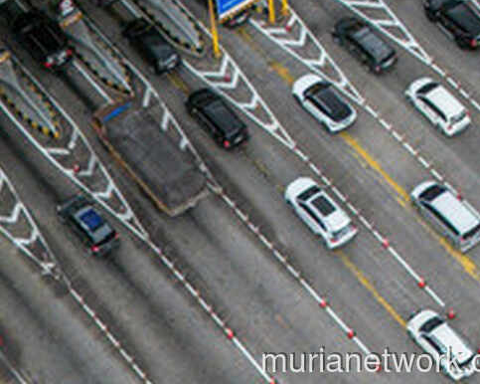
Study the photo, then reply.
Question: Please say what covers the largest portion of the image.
paved ground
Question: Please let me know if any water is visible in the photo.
No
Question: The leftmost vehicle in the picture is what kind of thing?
automobile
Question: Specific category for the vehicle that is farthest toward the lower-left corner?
car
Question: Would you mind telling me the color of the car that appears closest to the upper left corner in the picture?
black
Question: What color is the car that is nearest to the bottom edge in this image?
white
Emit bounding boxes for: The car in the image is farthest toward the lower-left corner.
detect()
[61,198,119,259]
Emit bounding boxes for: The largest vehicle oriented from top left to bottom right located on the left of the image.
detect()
[86,97,209,225]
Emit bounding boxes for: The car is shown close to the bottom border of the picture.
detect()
[407,309,475,378]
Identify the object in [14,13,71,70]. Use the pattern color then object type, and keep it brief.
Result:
black car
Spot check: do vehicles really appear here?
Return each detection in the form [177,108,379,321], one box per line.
[407,309,475,378]
[289,184,350,244]
[333,16,397,75]
[220,6,257,37]
[412,184,480,250]
[14,13,71,70]
[122,20,182,76]
[426,0,480,49]
[188,91,248,149]
[86,97,209,225]
[61,198,119,259]
[407,83,467,139]
[294,76,352,132]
